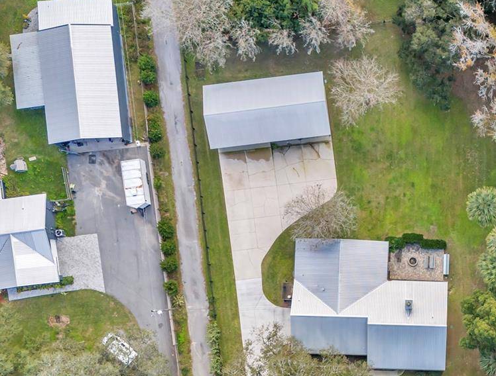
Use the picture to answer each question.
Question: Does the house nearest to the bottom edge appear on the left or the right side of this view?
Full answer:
The house nearest to the bottom edge sits on the right side.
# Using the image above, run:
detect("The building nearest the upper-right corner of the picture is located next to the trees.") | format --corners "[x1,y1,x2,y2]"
[203,71,332,151]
